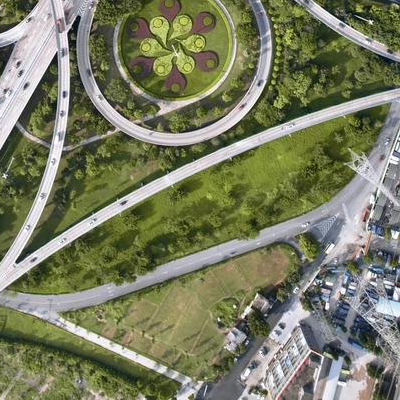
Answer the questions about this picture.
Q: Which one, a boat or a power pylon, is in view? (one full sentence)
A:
There is a power pylon in the scene.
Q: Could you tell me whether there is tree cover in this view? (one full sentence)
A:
Yes, tree cover shows up in the scene.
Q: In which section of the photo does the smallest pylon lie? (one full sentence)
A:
The smallest pylon is in the bottom right part of the image.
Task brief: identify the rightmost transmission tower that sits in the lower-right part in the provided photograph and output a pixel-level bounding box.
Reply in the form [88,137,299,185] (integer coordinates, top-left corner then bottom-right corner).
[341,265,400,372]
